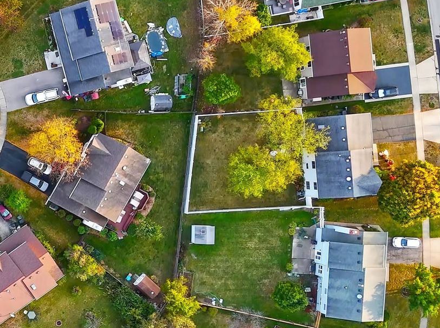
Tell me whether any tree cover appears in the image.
Yes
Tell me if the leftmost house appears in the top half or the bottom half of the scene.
bottom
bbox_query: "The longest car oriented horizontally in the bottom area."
[390,236,421,249]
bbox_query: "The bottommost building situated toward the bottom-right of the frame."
[312,225,387,323]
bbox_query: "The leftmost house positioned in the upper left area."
[51,0,135,95]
